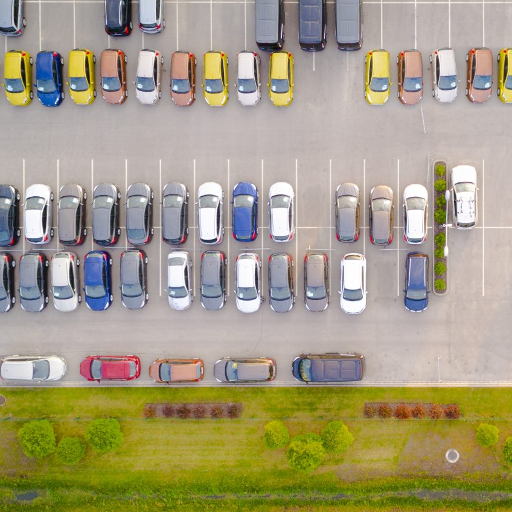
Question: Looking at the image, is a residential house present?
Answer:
No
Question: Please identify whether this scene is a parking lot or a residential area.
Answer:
parking lot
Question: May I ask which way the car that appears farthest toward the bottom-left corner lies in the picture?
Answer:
from left to right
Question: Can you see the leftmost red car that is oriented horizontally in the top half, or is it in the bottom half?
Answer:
bottom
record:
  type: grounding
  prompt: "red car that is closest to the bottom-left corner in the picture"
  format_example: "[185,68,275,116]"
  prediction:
[84,356,138,383]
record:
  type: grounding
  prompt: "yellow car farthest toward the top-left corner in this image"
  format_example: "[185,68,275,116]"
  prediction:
[3,51,34,106]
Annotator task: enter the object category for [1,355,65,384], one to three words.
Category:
car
